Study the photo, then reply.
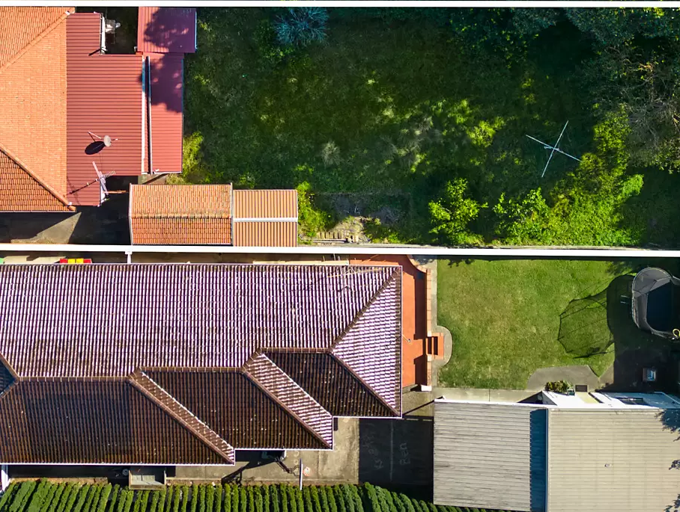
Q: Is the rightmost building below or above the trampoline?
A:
below it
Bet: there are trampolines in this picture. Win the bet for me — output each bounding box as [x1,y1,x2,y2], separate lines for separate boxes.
[621,269,680,340]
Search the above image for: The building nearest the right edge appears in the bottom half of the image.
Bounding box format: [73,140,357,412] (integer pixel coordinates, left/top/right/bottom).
[529,390,680,512]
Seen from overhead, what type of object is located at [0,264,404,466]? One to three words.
house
